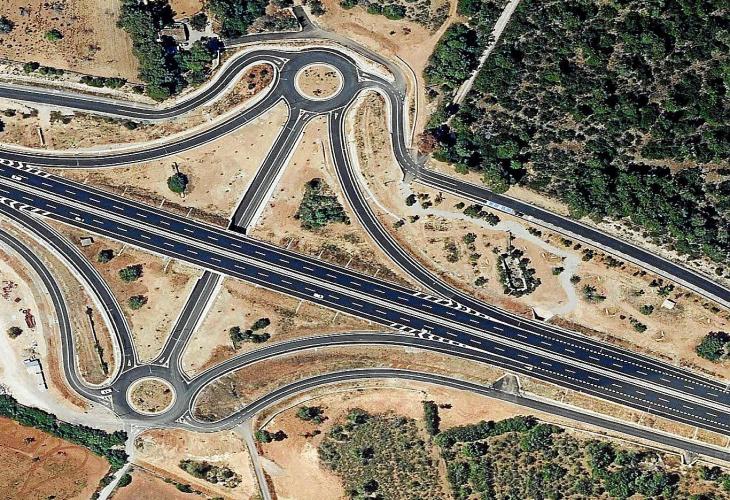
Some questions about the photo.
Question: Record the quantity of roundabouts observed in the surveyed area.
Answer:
two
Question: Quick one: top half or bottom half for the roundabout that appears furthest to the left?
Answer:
bottom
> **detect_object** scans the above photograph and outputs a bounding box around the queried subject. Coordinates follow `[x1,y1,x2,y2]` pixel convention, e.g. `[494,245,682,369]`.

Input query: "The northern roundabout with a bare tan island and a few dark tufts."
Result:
[258,49,390,139]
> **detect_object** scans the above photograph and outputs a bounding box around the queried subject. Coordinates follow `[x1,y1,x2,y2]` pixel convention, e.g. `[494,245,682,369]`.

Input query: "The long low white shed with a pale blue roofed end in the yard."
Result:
[25,360,46,389]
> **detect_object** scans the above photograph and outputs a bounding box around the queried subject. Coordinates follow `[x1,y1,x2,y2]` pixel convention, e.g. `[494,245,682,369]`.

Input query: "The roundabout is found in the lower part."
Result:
[85,340,223,435]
